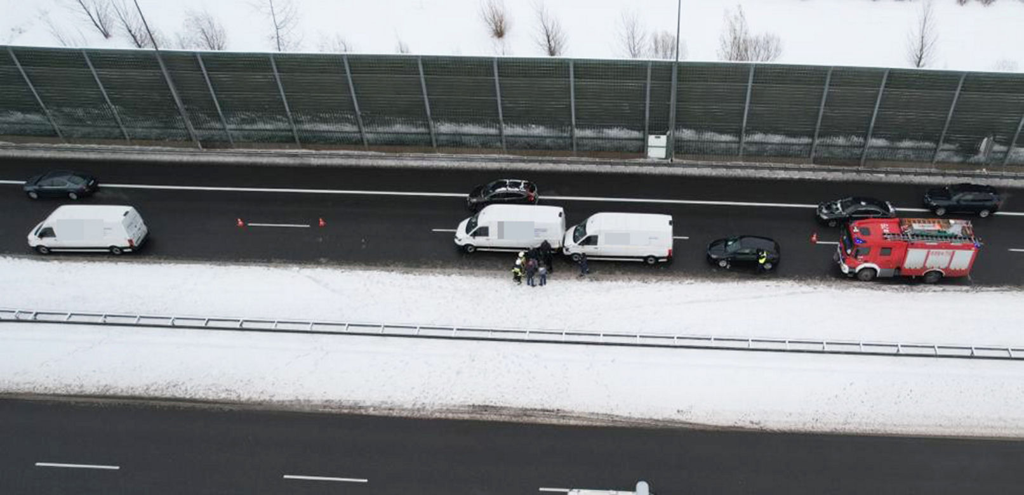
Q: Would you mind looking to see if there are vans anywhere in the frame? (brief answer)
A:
Yes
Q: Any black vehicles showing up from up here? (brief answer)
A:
Yes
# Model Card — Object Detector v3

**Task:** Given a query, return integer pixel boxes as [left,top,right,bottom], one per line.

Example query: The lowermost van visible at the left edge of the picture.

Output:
[26,204,150,255]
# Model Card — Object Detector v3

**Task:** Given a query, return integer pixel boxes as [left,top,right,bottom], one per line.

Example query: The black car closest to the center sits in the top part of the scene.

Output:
[465,180,537,213]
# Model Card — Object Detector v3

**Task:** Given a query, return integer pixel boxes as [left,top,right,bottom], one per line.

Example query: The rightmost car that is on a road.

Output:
[923,182,1003,218]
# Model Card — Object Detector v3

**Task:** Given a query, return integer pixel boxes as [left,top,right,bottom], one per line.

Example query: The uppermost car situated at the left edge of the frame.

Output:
[22,167,99,199]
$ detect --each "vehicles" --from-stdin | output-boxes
[465,180,537,213]
[814,195,896,227]
[454,204,565,255]
[566,484,652,495]
[560,213,673,264]
[836,217,982,284]
[26,204,150,255]
[22,167,99,199]
[708,234,781,272]
[923,182,1003,218]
